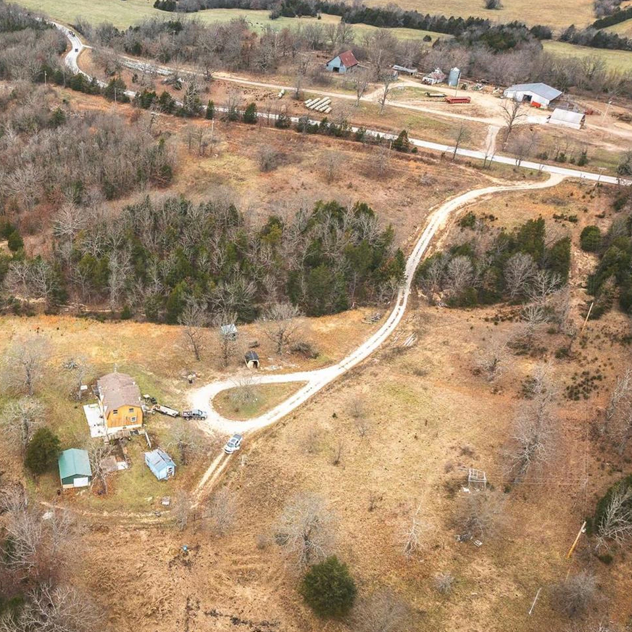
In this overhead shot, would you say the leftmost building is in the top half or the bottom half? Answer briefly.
bottom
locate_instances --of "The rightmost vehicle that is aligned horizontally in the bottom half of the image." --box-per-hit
[180,410,210,423]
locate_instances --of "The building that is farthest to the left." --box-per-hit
[57,445,93,489]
